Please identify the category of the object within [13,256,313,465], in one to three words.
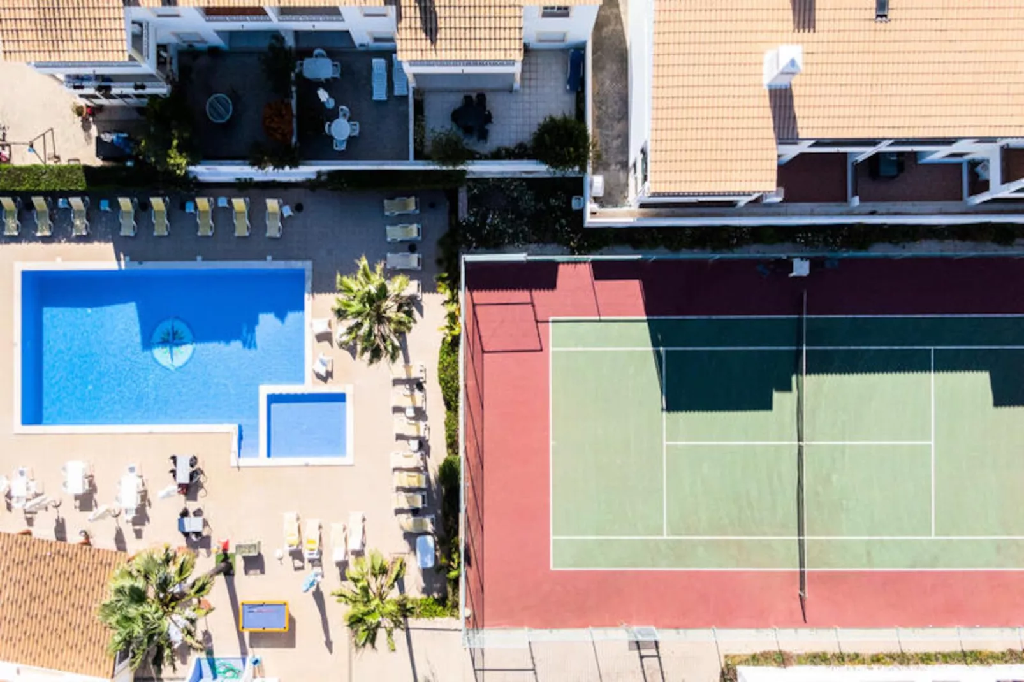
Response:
swimming pool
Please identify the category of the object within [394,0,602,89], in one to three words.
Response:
house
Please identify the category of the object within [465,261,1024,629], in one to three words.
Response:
tennis court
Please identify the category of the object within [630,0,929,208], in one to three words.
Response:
house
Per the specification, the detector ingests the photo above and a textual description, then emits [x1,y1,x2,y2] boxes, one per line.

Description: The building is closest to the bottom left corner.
[0,531,128,682]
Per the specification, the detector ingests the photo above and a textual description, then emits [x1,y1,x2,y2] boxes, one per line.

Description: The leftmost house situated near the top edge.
[0,0,188,110]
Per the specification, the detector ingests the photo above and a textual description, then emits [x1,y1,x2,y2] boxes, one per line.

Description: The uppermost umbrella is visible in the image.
[318,87,336,108]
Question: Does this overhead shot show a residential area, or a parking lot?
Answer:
residential area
